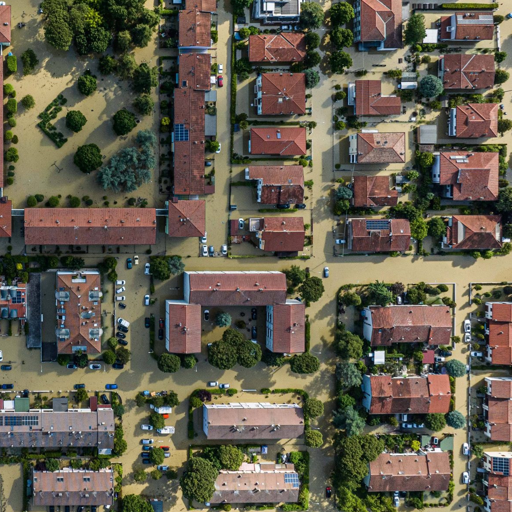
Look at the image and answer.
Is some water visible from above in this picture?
Yes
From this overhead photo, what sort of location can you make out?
residential area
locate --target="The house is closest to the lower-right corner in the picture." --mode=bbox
[478,451,512,512]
